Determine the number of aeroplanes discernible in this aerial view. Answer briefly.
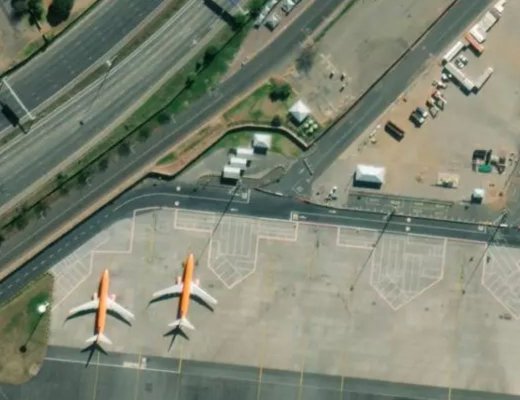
2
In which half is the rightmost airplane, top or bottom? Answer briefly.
bottom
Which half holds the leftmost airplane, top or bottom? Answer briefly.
bottom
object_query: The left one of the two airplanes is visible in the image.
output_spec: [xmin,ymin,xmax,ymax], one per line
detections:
[70,269,134,345]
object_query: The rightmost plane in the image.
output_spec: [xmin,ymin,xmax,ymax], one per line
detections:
[154,253,217,330]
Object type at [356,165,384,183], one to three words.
house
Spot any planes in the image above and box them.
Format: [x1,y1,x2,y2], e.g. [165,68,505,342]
[70,269,134,345]
[154,253,217,330]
